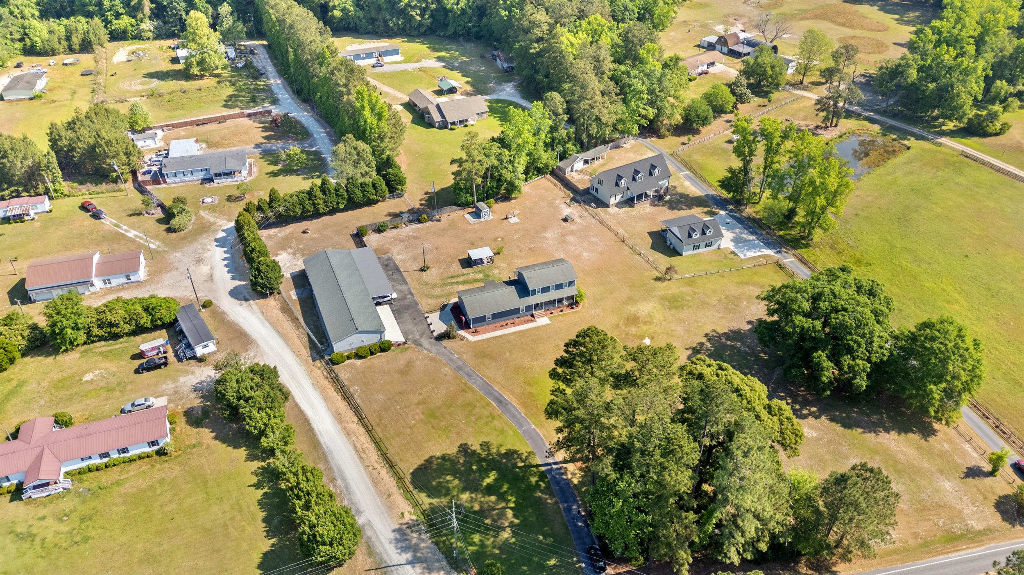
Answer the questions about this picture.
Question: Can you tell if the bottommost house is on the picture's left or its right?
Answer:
left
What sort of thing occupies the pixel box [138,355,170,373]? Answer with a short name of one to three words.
vehicle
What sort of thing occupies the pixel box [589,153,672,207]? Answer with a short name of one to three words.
house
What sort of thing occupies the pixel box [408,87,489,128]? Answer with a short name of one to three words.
house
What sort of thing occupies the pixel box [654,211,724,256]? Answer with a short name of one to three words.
building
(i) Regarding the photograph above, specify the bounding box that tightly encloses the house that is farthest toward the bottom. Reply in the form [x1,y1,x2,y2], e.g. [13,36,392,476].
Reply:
[0,406,171,510]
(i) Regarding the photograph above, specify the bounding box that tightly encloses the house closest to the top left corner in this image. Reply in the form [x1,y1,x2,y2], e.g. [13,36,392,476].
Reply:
[1,73,48,100]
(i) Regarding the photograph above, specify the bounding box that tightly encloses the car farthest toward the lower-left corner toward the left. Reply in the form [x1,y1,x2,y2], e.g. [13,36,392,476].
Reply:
[124,396,155,415]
